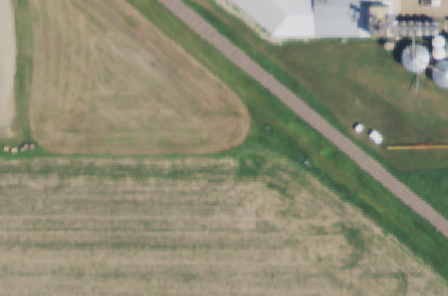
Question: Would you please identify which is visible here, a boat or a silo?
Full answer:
Of the two, only a silo appears.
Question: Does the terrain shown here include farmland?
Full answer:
Yes, farmland shows up in the scene.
